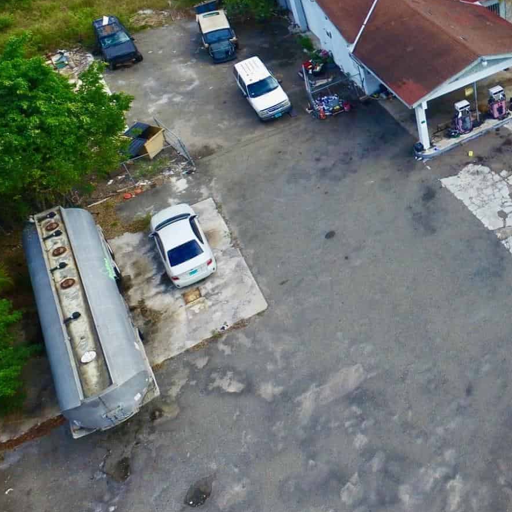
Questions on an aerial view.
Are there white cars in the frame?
Yes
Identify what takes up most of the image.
paved ground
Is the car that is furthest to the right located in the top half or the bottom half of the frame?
top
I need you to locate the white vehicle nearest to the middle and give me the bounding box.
[151,207,223,293]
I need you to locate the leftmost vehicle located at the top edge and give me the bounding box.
[94,19,142,72]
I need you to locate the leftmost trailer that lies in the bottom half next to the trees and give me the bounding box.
[20,187,167,459]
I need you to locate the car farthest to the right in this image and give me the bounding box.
[229,58,289,125]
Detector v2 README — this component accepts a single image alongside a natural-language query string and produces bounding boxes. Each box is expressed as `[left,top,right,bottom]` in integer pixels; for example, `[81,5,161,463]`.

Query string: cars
[195,7,241,65]
[151,207,223,293]
[94,19,142,72]
[229,58,289,125]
